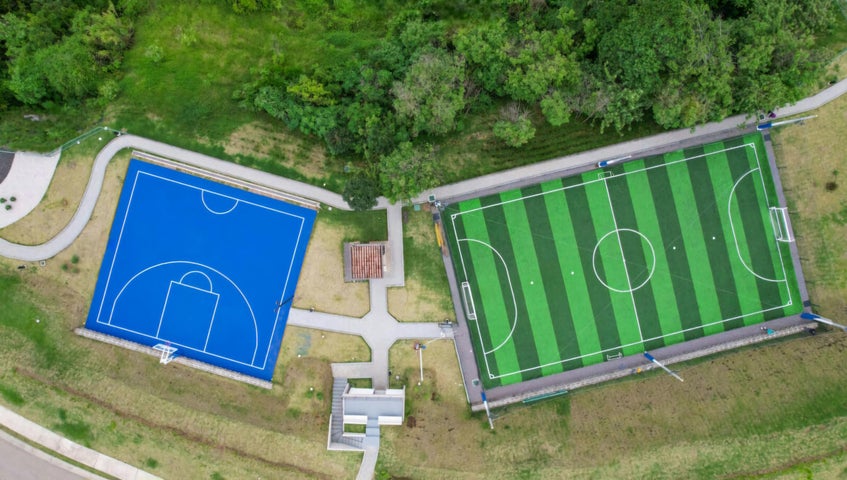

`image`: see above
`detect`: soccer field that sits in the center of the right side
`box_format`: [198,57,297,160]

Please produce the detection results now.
[442,133,803,389]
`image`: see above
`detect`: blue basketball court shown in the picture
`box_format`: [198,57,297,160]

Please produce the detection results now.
[84,158,317,383]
